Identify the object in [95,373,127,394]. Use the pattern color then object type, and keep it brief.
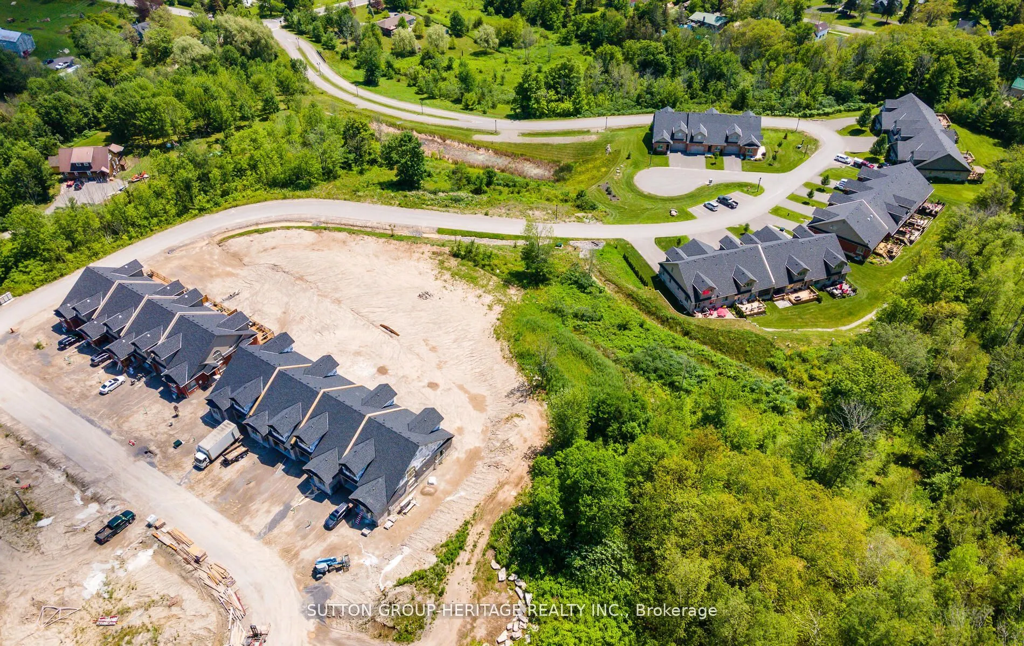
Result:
white car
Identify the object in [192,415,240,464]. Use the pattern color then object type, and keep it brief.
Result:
white truck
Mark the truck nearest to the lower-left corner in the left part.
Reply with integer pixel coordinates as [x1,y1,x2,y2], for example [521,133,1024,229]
[91,508,138,545]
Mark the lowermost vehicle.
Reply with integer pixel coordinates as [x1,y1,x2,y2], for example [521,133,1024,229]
[241,620,271,646]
